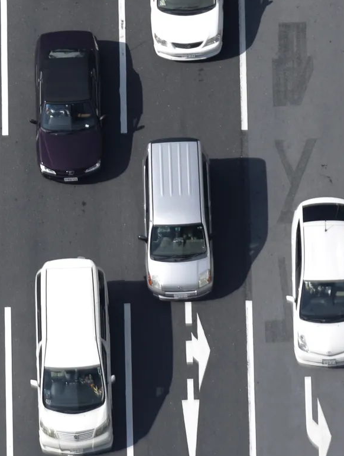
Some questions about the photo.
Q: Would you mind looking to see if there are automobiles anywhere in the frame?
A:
Yes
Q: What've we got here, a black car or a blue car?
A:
black car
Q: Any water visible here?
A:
No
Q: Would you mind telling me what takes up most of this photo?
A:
paved ground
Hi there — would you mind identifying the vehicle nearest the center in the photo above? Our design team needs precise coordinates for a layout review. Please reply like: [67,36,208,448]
[137,134,219,299]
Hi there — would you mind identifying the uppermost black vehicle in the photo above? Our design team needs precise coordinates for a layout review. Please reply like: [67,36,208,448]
[29,32,109,183]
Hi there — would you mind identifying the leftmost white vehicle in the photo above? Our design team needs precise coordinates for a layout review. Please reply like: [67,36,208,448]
[30,256,117,455]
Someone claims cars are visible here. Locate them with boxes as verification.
[29,32,109,183]
[137,134,219,299]
[285,198,344,365]
[144,0,227,60]
[30,256,117,455]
